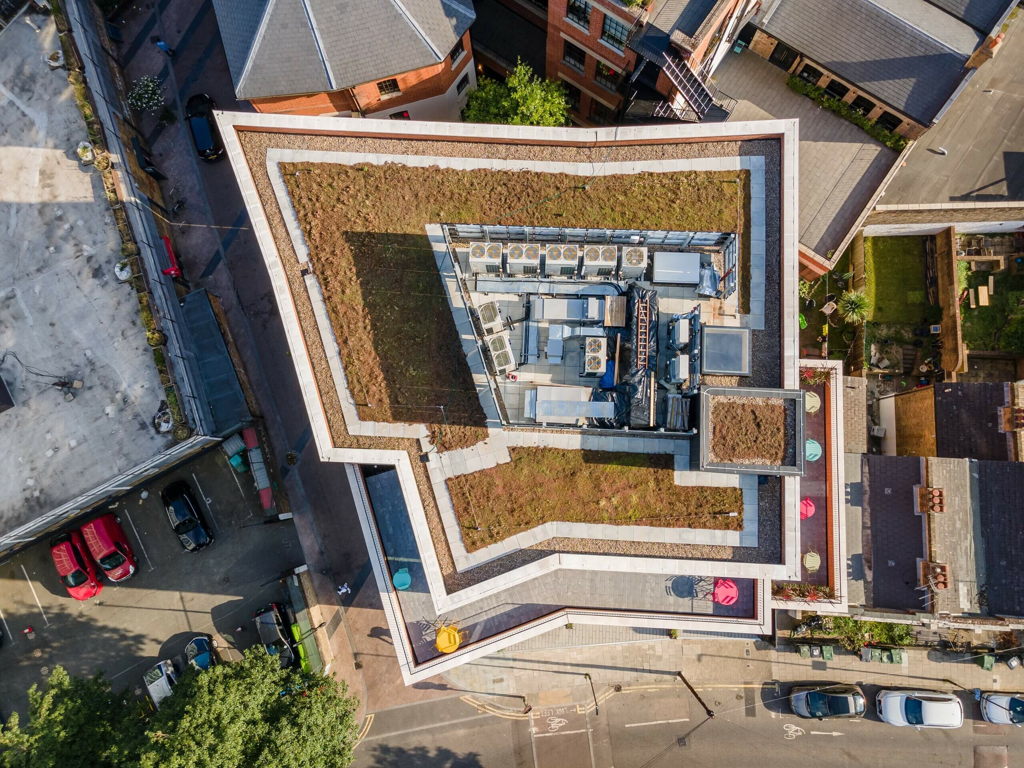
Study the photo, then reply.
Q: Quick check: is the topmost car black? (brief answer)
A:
Yes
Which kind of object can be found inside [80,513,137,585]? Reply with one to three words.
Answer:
car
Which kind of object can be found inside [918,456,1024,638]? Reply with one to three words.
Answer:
house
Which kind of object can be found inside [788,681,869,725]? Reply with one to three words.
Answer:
car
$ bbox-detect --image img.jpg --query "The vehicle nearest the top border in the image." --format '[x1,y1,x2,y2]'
[186,93,229,163]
